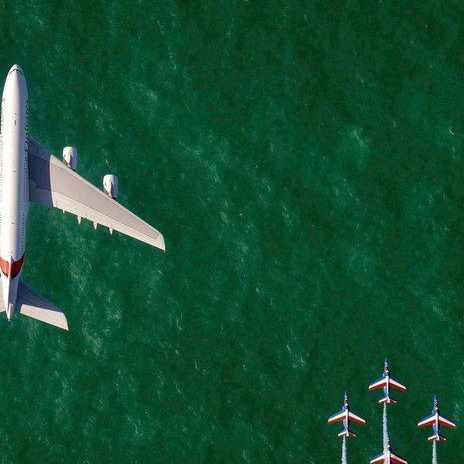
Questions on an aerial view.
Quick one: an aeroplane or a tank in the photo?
aeroplane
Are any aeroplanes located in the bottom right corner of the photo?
Yes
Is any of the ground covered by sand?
No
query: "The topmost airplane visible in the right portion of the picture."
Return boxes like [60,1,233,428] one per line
[368,356,406,403]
